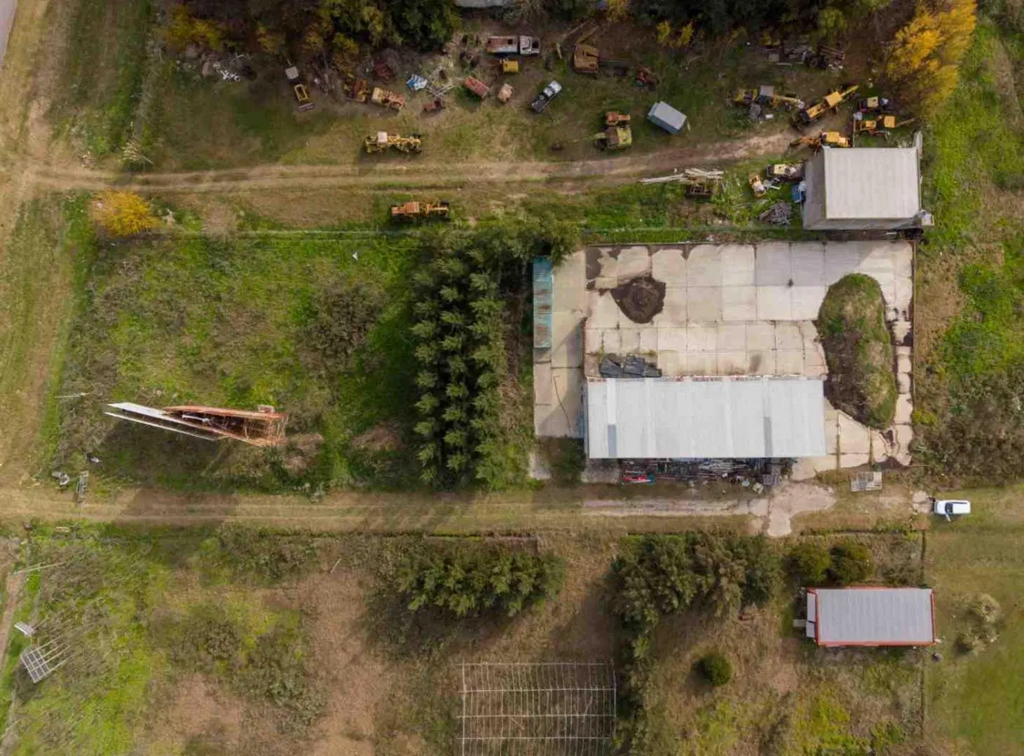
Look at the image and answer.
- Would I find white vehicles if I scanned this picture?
Yes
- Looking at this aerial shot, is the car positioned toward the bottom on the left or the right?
right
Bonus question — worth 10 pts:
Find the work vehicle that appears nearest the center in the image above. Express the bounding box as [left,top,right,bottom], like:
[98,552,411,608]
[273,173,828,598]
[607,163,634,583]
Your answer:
[391,200,449,220]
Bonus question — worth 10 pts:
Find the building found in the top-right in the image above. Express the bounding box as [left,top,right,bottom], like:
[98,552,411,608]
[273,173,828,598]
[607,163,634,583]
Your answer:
[806,146,920,229]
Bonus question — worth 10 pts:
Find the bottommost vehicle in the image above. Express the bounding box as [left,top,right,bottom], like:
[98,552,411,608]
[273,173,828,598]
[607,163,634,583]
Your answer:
[936,503,975,524]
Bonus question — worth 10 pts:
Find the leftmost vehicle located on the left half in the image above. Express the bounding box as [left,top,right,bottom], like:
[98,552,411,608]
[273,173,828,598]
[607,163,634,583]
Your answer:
[292,81,315,112]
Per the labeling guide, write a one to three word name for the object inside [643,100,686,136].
trailer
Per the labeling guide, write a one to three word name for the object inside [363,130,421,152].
work vehicle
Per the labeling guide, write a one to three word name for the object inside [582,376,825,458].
shed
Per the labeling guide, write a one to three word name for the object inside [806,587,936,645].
building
